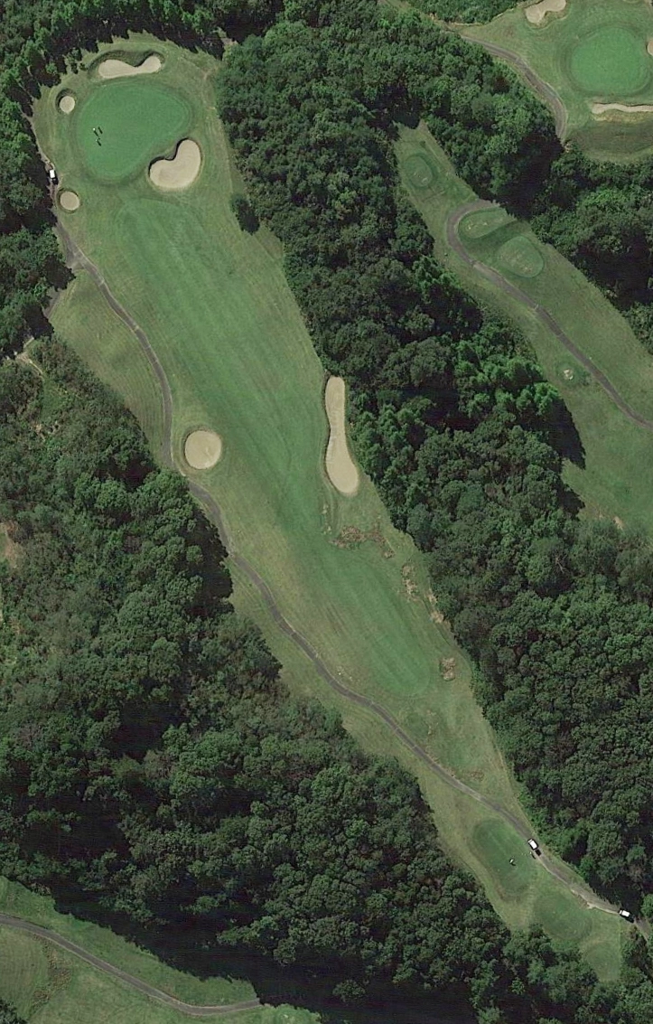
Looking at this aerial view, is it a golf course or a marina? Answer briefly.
golf course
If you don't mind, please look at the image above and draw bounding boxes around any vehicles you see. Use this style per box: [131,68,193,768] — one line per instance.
[620,909,631,917]
[529,839,538,850]
[50,170,56,180]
